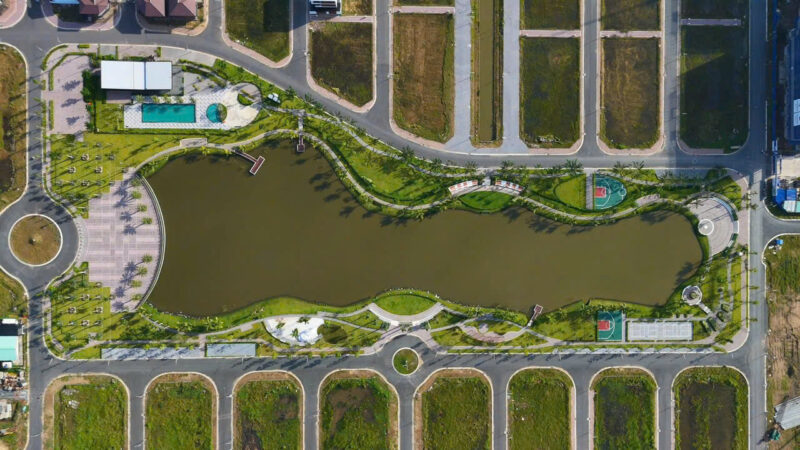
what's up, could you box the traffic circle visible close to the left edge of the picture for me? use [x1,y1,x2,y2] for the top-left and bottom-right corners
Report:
[9,213,62,266]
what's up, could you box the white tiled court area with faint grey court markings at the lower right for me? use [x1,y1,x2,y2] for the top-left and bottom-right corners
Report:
[628,322,693,341]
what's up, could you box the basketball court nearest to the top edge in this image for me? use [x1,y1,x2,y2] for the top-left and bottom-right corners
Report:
[595,174,627,209]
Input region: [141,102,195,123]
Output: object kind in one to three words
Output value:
swimming pool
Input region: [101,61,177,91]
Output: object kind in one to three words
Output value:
building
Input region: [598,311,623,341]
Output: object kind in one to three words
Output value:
basketball court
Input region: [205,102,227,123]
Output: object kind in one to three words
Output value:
swimming pool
